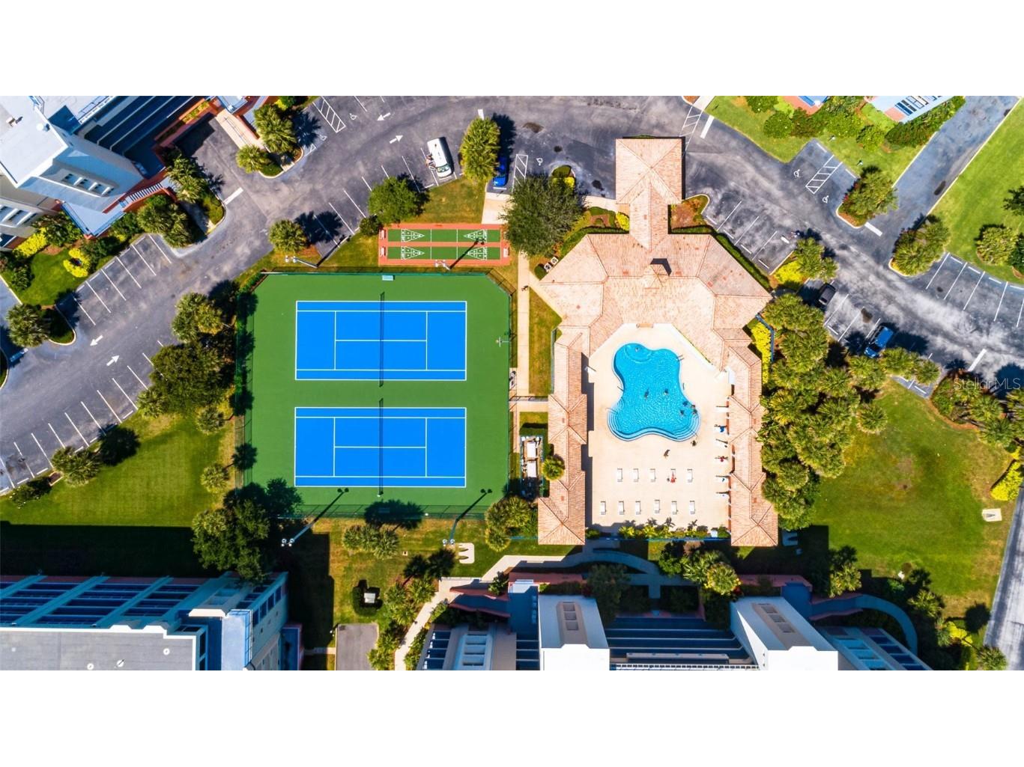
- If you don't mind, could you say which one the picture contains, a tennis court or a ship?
tennis court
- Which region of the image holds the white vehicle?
top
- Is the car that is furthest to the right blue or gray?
blue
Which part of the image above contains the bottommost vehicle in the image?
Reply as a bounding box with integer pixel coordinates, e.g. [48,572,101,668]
[861,325,893,358]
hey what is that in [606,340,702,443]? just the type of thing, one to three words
swimming pool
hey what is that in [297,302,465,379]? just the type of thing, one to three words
tennis court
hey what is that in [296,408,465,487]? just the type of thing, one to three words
tennis court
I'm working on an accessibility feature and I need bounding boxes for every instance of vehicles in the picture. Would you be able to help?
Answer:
[493,157,509,191]
[810,279,840,313]
[861,325,893,358]
[428,137,452,182]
